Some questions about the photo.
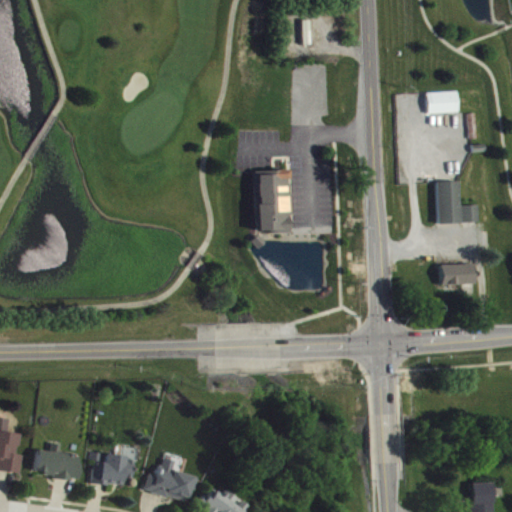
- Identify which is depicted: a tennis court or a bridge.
bridge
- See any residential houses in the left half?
Yes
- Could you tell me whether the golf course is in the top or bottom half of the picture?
top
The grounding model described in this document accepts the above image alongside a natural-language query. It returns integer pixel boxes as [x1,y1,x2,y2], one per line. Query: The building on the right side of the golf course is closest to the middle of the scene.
[255,170,293,232]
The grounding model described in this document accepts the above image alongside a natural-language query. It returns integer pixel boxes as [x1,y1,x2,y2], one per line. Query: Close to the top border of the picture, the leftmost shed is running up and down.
[300,18,312,46]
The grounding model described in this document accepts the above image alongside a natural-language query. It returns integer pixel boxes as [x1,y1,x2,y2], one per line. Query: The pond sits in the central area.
[252,240,324,290]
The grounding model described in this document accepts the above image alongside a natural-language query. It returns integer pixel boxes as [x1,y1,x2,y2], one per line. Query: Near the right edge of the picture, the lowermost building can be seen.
[470,482,504,512]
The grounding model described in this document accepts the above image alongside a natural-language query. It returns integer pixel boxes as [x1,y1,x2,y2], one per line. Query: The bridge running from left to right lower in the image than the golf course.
[186,322,303,374]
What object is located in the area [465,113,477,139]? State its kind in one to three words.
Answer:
shed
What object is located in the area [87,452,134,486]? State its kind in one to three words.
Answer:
house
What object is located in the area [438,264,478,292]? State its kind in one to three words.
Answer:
house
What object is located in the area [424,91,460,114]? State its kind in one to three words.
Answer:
building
